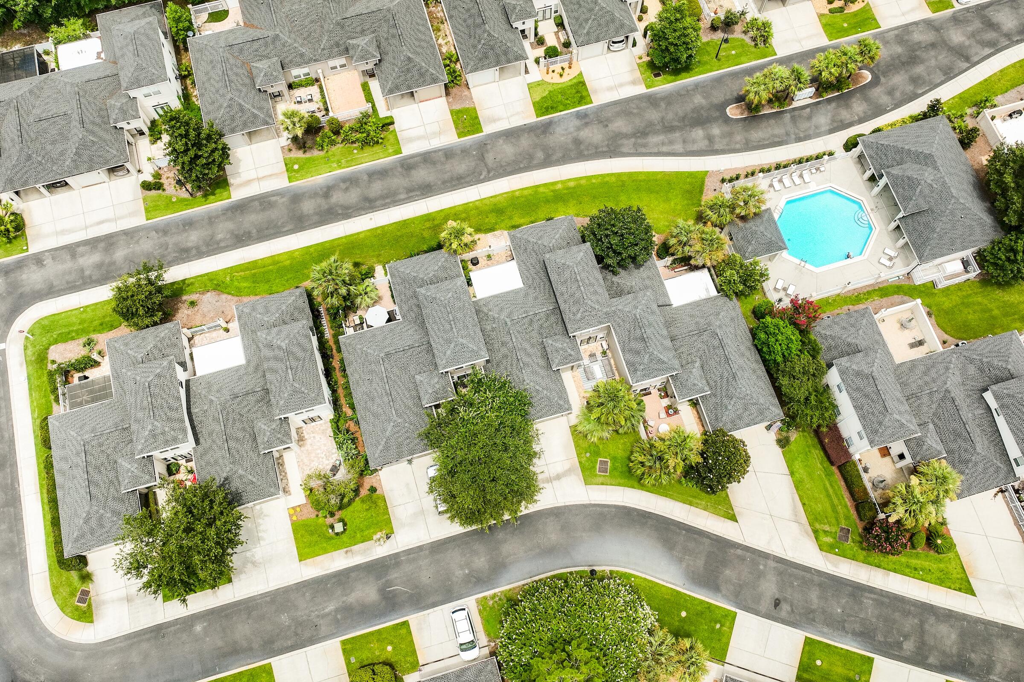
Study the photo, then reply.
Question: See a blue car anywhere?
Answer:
No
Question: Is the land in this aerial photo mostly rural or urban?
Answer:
urban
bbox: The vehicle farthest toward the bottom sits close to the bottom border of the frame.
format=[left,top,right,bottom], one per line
[449,603,483,666]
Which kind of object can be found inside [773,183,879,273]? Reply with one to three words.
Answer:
swimming pool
